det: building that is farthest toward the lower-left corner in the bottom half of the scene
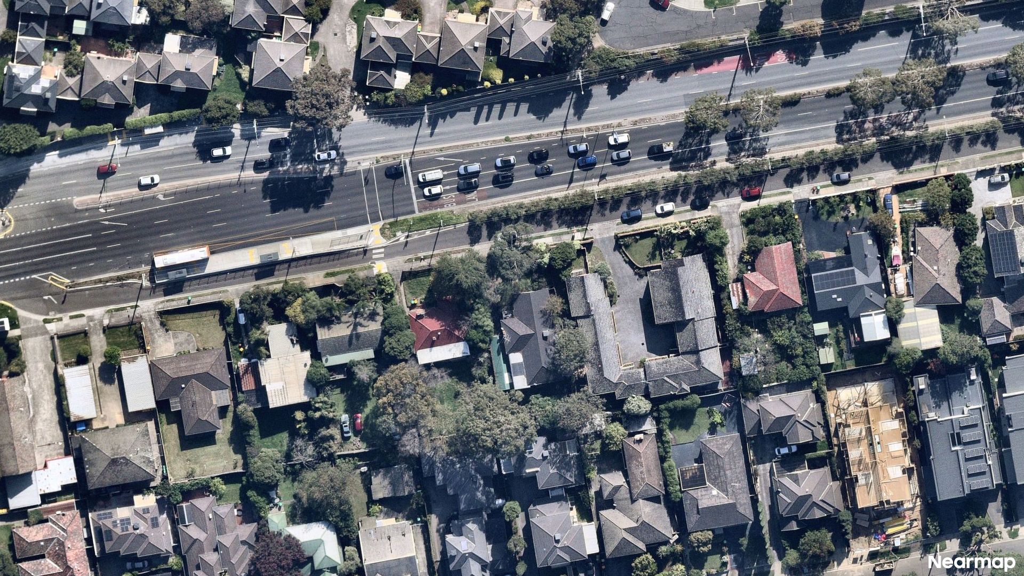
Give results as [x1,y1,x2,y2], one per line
[12,510,94,576]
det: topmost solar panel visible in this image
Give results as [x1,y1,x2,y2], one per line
[990,230,1020,273]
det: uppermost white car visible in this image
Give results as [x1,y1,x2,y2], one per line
[600,2,614,23]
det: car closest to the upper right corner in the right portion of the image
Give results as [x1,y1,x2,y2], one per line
[987,71,1007,83]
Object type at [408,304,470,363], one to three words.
house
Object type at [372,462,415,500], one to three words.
building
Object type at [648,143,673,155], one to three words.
vehicle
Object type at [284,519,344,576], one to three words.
building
